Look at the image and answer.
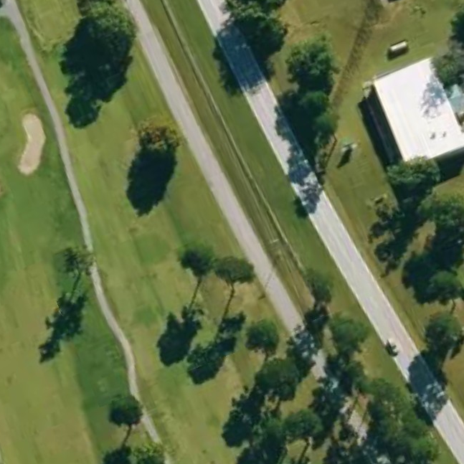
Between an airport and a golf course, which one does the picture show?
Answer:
golf course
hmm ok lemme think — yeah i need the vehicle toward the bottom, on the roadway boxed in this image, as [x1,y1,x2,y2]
[387,335,399,352]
